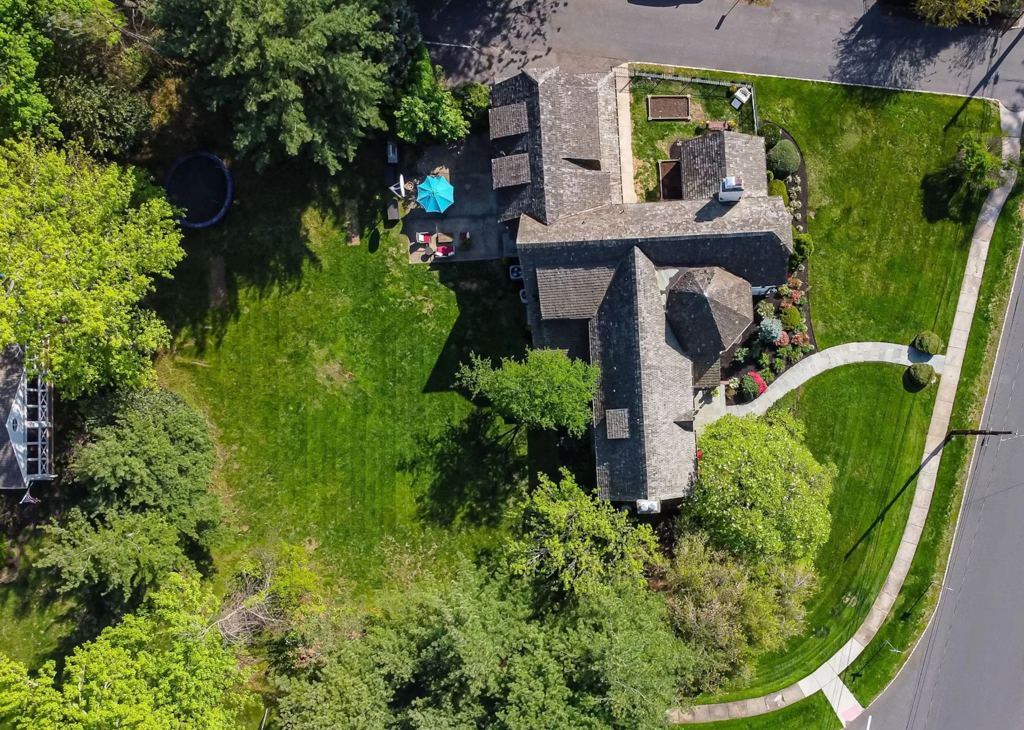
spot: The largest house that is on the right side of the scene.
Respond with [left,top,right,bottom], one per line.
[488,63,793,513]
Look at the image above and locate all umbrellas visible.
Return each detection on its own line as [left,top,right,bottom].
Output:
[416,176,454,213]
